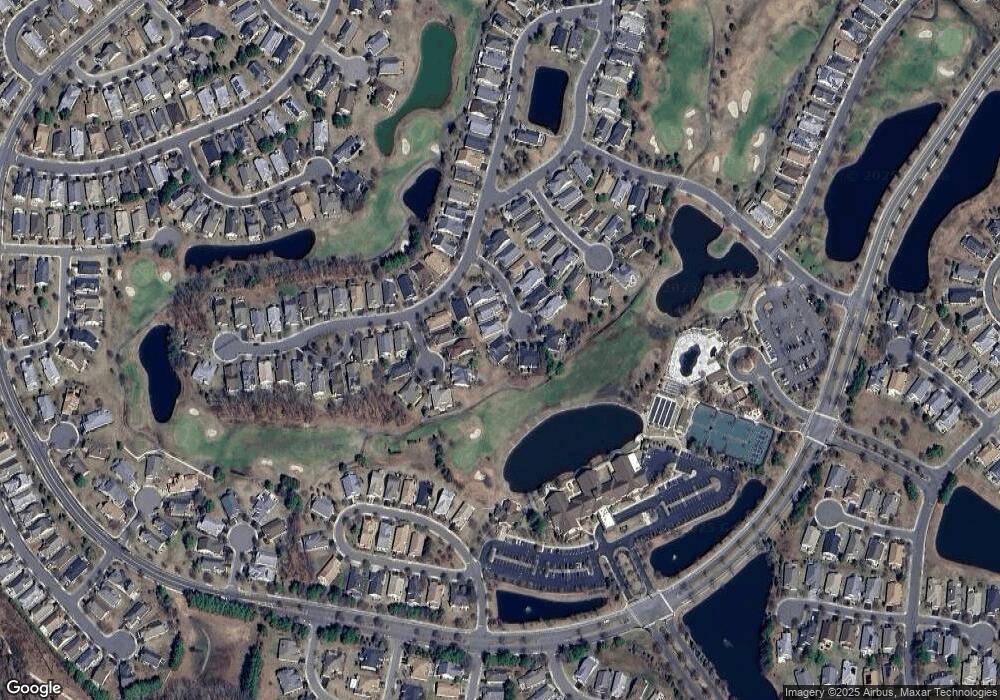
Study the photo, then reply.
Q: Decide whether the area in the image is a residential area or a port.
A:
residential area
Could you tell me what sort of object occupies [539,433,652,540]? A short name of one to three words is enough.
building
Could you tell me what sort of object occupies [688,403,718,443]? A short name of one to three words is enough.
tennis court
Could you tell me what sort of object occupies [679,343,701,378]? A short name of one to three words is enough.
swimming pool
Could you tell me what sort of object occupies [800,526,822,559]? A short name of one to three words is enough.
house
